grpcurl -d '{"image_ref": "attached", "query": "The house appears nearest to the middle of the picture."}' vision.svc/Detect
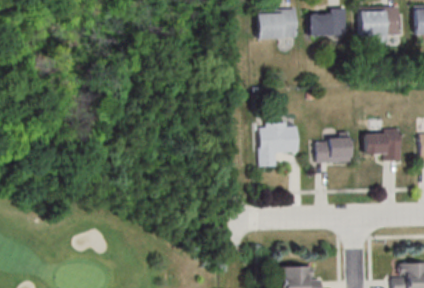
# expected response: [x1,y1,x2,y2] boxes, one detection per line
[258,122,300,167]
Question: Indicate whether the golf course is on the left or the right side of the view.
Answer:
left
